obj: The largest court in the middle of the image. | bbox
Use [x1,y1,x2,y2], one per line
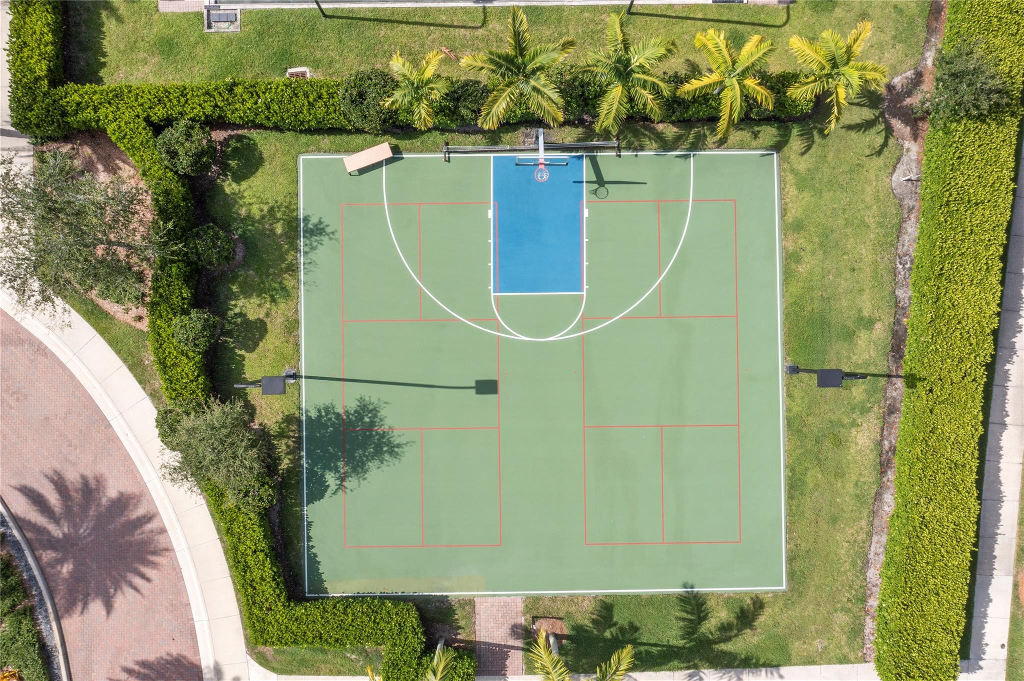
[298,149,787,600]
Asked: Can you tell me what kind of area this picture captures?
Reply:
sports ground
